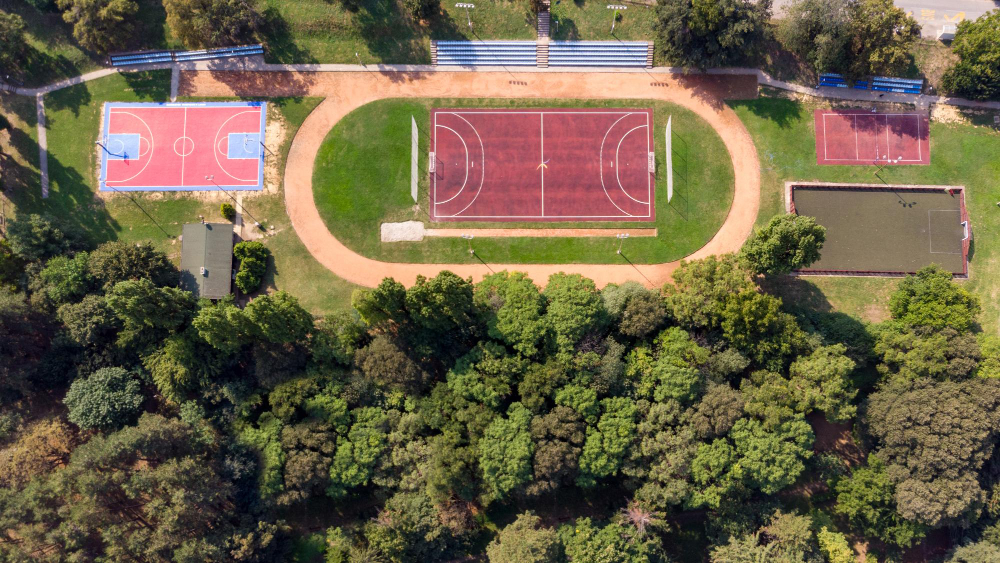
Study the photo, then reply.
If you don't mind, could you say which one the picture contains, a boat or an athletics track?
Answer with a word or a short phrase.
athletics track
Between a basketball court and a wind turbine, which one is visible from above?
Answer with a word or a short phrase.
basketball court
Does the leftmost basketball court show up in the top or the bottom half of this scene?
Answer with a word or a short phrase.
top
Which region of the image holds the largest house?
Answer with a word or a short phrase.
left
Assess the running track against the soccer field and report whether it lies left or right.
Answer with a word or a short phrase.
to the left of it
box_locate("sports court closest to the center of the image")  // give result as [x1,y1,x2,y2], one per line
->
[431,108,655,221]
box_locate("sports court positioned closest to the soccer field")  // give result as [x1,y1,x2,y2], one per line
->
[814,109,930,165]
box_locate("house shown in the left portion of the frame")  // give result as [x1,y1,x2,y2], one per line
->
[181,219,234,302]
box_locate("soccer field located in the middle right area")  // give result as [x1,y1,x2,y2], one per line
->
[785,182,973,279]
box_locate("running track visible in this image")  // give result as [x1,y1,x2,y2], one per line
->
[178,70,760,286]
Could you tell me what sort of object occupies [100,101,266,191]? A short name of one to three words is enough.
basketball court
